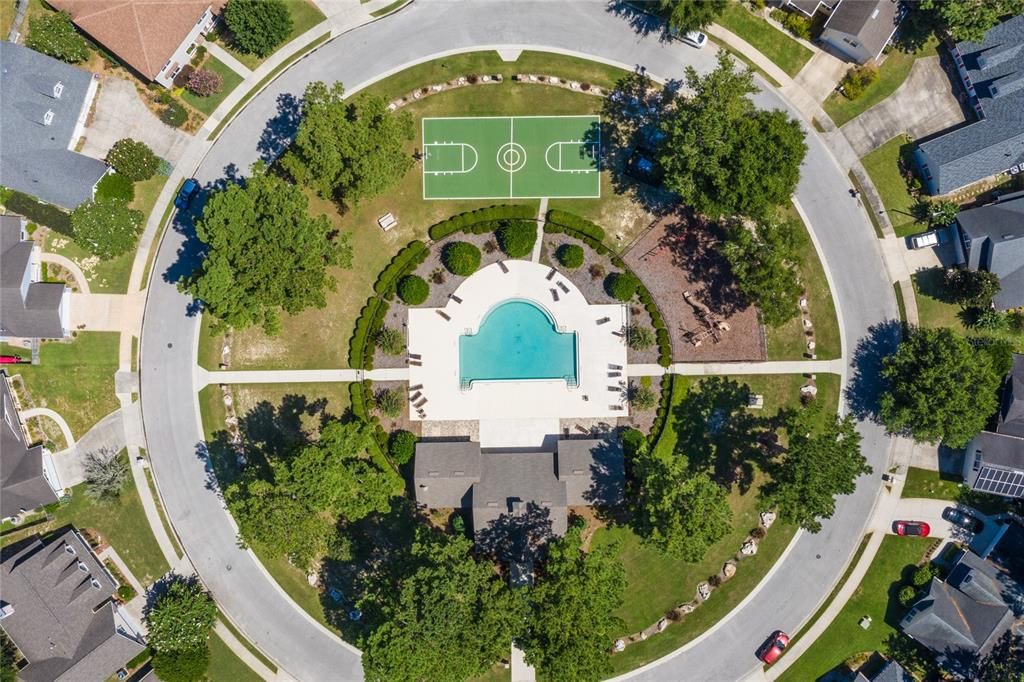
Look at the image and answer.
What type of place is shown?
residential area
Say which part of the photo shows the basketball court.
top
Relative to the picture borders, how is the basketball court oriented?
horizontally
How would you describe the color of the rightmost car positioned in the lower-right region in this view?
black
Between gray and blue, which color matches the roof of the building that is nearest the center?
gray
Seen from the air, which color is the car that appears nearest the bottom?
red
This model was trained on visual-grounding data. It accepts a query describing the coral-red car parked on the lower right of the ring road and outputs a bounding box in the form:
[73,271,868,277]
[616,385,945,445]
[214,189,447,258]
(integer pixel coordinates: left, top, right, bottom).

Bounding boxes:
[759,631,791,665]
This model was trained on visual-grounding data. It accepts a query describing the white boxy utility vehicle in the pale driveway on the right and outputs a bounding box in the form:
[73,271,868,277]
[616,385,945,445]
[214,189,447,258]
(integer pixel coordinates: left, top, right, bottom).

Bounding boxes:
[908,228,949,251]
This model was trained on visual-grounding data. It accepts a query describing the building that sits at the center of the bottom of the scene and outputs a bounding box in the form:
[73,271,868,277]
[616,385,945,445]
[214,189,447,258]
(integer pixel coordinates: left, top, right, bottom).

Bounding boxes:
[413,440,626,552]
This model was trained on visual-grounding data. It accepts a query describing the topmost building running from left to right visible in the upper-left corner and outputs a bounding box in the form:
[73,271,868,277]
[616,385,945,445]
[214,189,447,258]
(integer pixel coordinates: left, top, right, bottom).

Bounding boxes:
[49,0,228,85]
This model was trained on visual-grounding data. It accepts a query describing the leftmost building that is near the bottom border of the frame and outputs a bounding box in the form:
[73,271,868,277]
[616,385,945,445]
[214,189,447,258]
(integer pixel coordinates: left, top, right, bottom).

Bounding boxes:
[0,530,148,682]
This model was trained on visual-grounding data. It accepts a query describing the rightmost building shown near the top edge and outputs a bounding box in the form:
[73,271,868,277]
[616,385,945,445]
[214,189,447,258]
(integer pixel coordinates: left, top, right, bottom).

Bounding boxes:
[912,15,1024,195]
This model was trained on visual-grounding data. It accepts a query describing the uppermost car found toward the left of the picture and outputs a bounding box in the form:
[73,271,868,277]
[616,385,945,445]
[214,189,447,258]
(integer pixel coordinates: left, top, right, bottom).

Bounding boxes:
[173,177,201,212]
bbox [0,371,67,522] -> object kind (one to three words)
house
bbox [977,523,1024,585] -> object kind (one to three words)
house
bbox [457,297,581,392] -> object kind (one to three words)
swimming pool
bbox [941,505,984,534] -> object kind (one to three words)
car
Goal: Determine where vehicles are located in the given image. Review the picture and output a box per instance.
[759,631,791,665]
[895,519,931,538]
[173,177,201,212]
[672,29,711,51]
[941,505,984,534]
[908,228,949,251]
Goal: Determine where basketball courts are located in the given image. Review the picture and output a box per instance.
[422,115,601,200]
